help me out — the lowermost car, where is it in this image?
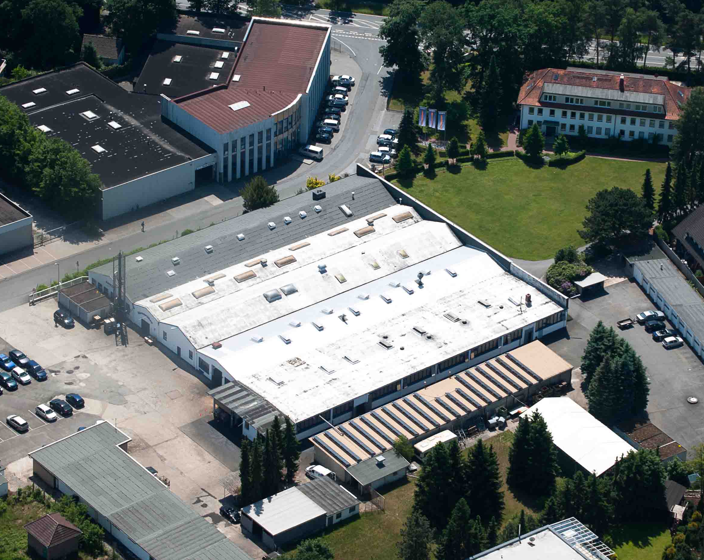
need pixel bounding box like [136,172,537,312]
[219,507,242,525]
